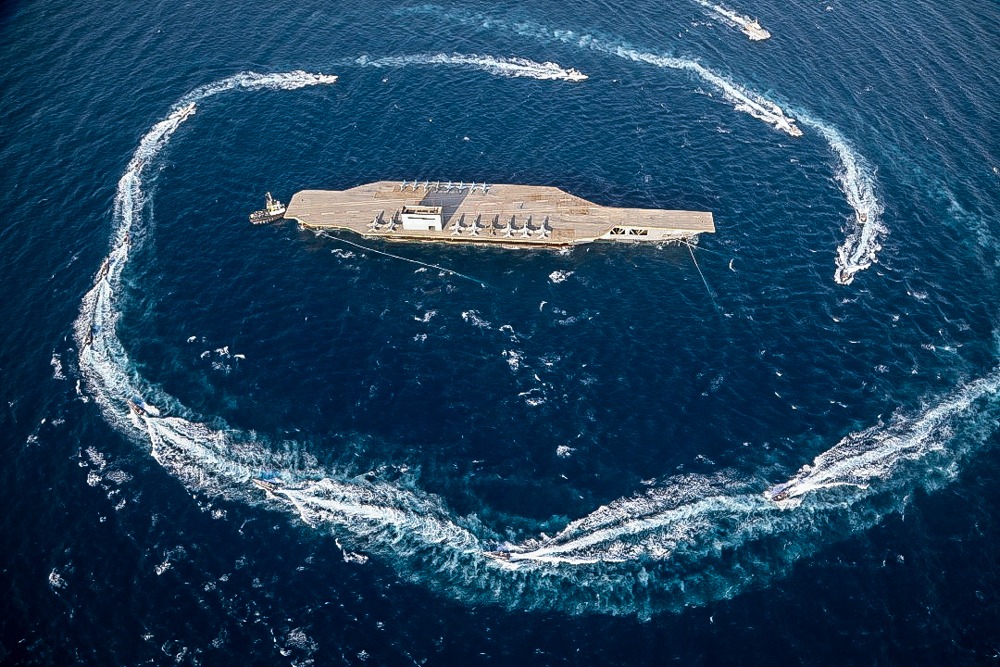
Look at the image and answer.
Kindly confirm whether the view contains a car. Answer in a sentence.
No, there's no car here.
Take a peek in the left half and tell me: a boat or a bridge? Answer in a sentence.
The one visible in the left half is a boat.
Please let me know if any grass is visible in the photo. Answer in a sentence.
No, there is no grass in the image.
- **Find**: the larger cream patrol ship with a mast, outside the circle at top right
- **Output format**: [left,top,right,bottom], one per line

[746,16,771,38]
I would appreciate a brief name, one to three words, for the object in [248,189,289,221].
boat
